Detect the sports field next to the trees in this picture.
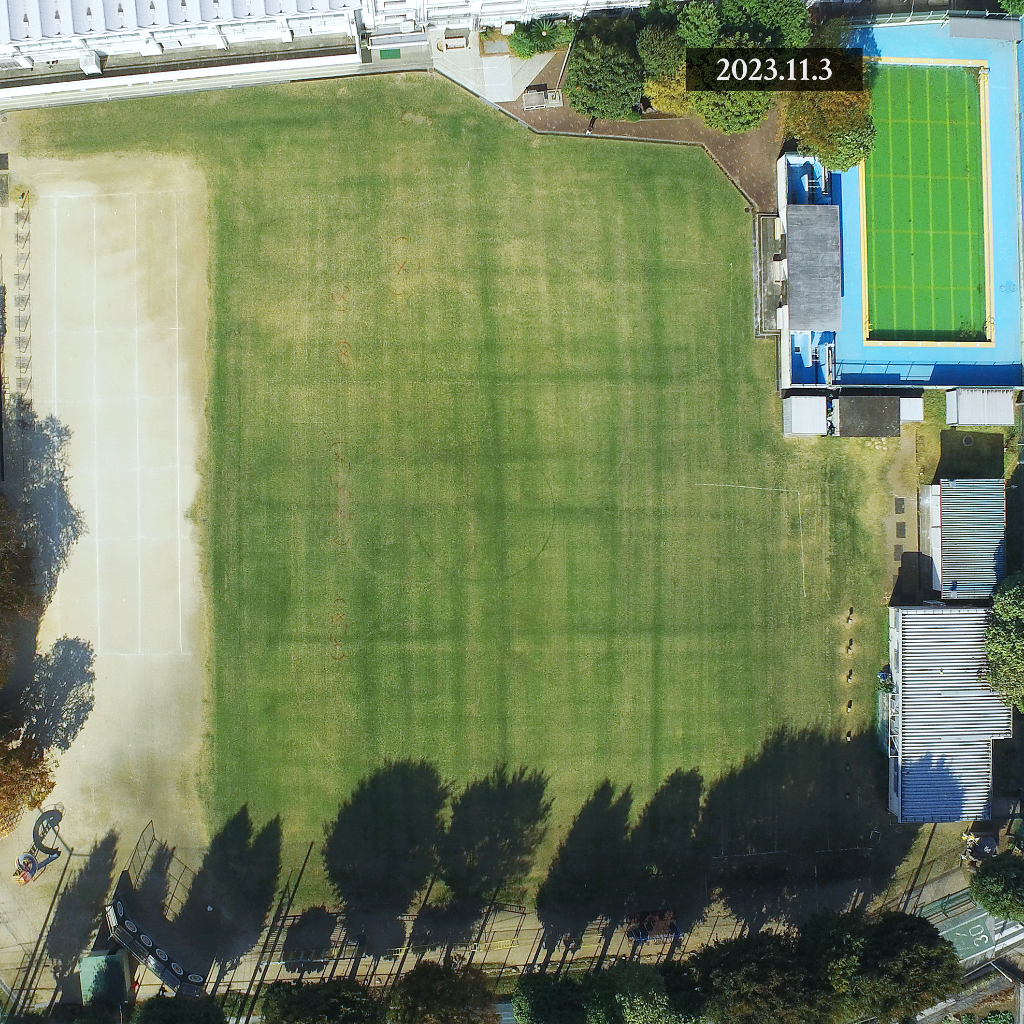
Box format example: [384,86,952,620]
[19,72,915,930]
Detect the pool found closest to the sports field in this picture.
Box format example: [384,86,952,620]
[782,18,1024,389]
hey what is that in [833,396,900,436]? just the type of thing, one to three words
shed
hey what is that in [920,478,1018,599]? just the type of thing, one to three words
building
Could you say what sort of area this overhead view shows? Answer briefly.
sports ground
